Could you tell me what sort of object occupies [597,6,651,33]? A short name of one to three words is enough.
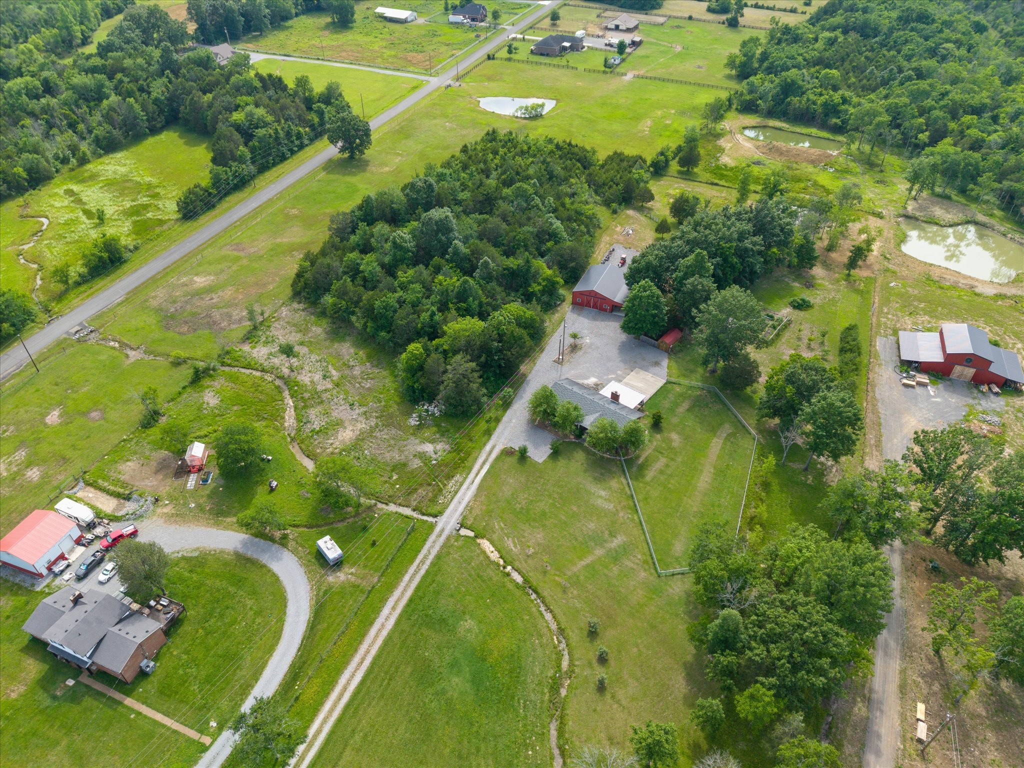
barn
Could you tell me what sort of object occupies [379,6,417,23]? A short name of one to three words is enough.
barn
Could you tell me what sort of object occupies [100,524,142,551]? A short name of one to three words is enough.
truck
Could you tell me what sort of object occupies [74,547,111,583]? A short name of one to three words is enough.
truck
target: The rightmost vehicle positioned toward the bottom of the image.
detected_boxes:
[317,535,345,570]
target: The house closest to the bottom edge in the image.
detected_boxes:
[20,585,167,686]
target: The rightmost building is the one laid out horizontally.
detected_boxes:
[895,323,1024,393]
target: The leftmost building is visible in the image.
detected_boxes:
[0,509,84,578]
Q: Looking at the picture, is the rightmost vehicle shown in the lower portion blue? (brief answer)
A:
No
